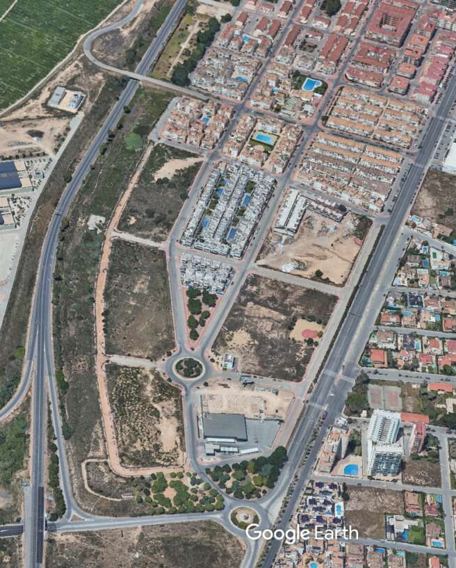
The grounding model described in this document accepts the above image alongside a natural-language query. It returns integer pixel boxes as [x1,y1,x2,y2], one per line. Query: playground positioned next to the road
[289,318,324,341]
